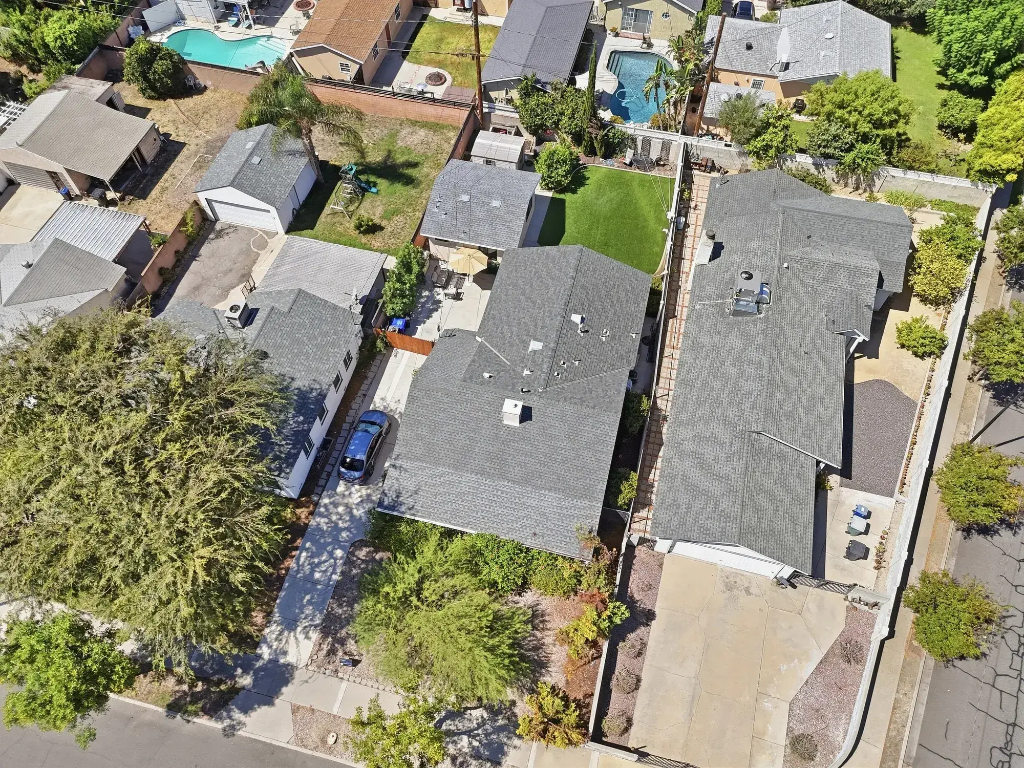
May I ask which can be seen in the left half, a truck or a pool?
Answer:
pool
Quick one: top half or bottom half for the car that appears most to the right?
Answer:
top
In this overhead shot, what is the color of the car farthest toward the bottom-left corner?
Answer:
blue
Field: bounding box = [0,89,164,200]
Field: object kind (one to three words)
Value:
building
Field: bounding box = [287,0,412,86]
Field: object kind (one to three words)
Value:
house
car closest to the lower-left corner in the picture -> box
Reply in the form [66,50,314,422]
[335,409,387,484]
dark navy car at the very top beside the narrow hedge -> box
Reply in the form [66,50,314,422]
[730,0,754,21]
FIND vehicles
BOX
[335,409,387,484]
[730,0,754,21]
